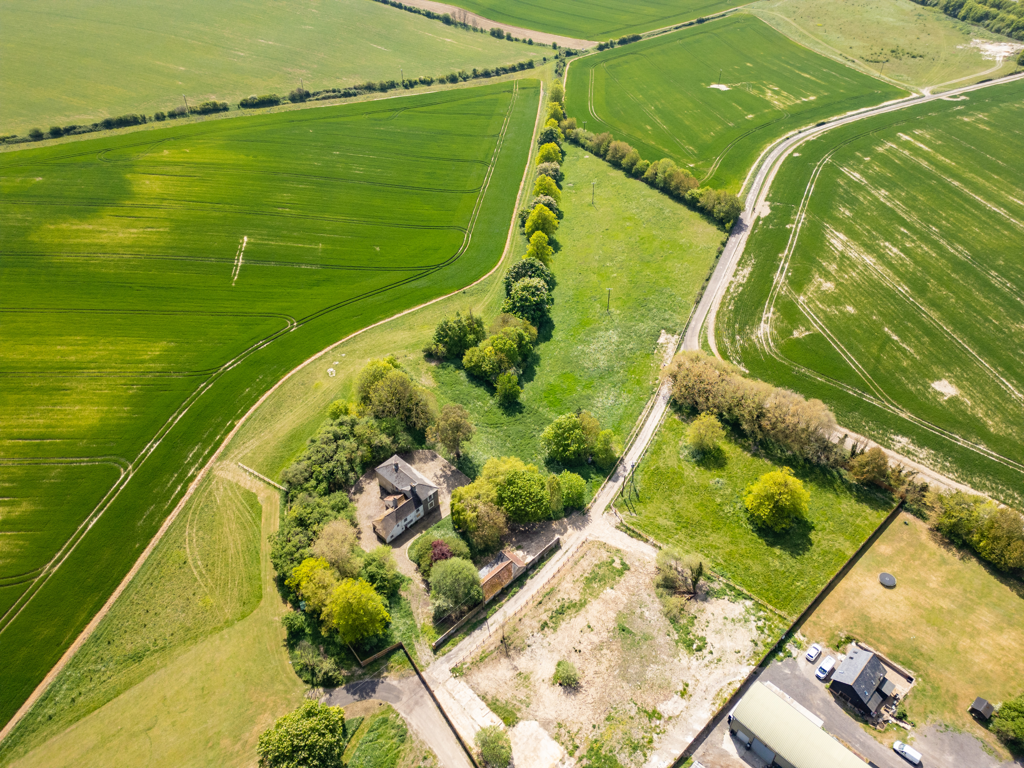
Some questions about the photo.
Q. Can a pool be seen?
No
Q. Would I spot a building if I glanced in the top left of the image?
No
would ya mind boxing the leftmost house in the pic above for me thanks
[370,453,444,543]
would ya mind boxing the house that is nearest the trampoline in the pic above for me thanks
[827,647,897,717]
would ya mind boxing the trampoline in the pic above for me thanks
[877,573,897,590]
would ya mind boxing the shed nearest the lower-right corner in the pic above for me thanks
[967,695,995,722]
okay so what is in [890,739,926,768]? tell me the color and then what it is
white van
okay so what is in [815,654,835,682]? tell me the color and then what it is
white vehicle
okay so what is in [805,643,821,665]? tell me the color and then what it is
white car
